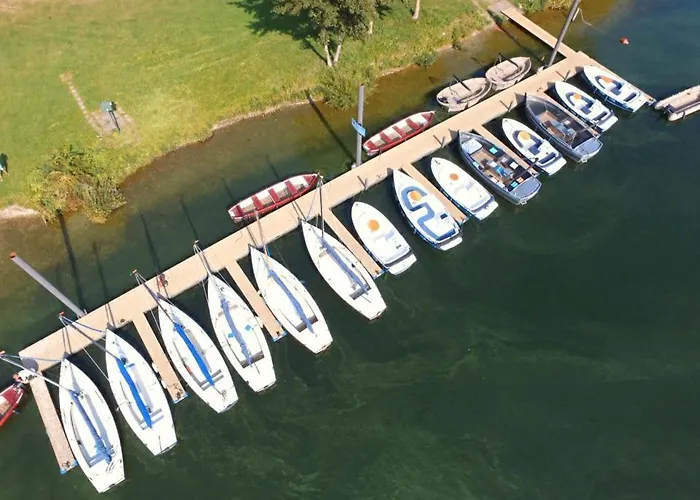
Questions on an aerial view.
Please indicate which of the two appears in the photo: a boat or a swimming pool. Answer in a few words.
boat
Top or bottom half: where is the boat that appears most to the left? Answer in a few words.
bottom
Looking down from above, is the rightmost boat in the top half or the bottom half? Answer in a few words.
top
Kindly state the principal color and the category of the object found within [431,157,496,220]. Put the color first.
white boat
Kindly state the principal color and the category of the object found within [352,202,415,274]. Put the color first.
white boat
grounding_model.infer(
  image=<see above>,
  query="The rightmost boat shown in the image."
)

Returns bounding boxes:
[653,88,700,120]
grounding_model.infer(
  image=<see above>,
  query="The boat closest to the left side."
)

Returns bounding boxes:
[0,384,21,428]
